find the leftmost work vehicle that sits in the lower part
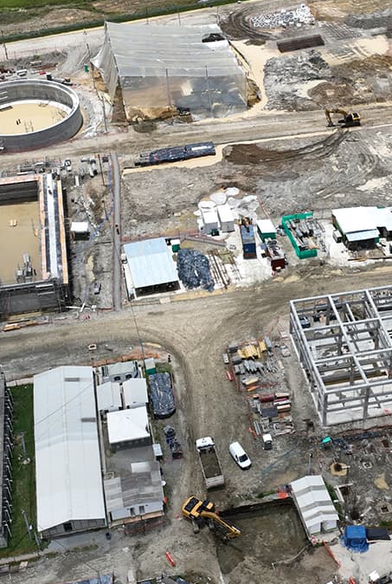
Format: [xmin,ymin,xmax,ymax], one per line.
[166,430,182,456]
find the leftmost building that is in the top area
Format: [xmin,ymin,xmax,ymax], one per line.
[70,221,89,239]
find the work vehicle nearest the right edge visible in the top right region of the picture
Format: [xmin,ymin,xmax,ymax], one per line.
[322,102,362,125]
